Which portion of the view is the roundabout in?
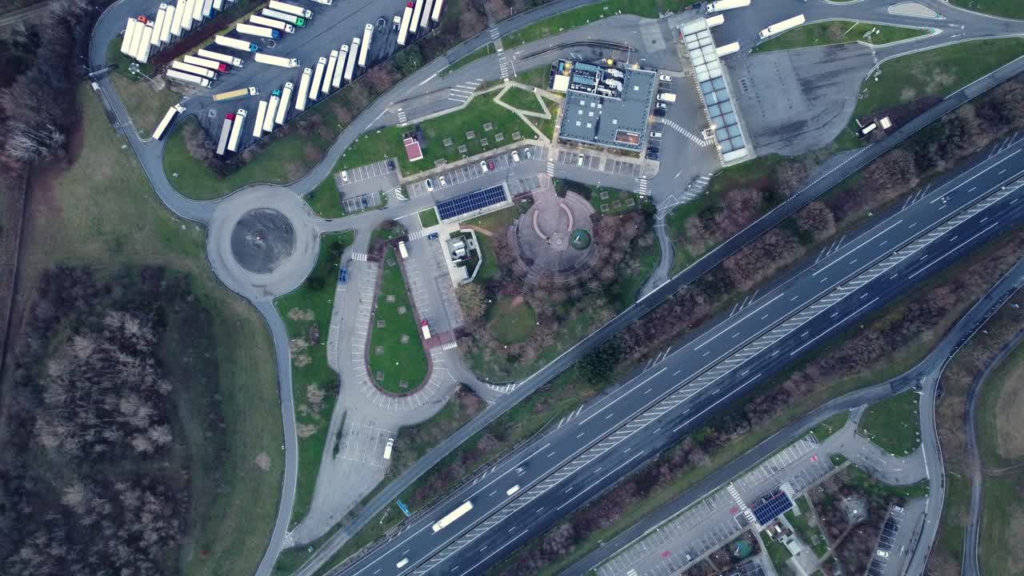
left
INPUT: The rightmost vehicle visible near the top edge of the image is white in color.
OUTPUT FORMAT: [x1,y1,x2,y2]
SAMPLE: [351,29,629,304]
[756,14,806,42]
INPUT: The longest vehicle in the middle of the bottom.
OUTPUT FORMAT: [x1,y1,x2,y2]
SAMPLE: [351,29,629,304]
[432,500,474,532]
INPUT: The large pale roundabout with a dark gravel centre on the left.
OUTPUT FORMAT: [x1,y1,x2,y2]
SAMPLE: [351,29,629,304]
[206,184,319,298]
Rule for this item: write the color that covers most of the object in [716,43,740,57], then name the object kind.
white vehicle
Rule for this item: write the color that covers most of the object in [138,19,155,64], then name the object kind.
white vehicle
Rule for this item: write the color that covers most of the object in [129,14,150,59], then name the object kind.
white truck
